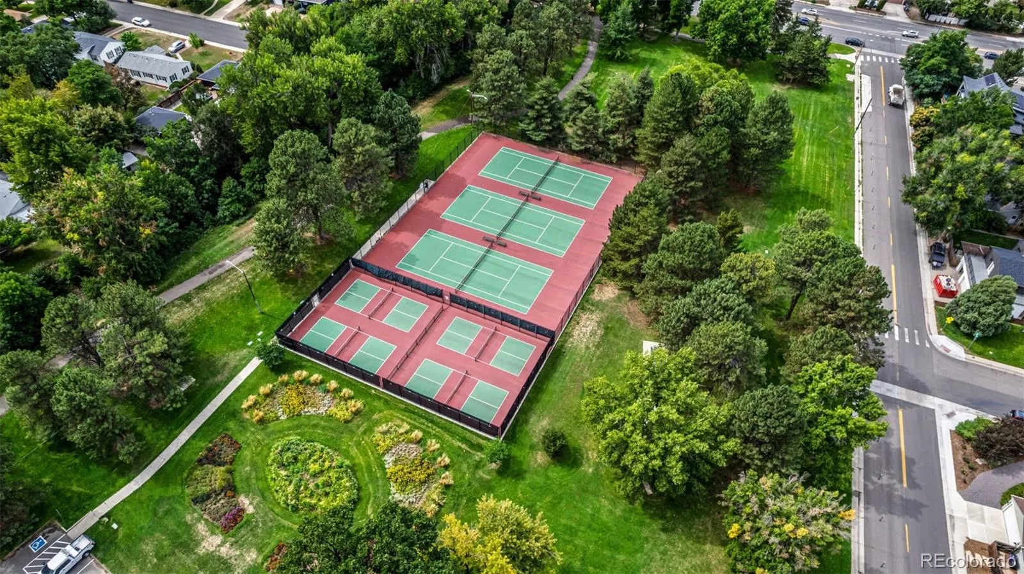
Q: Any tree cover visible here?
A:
Yes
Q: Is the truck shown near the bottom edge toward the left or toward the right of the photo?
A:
left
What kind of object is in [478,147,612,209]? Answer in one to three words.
tennis court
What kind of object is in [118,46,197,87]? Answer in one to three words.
house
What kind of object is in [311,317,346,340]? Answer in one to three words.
sports court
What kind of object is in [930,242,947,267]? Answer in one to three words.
vehicle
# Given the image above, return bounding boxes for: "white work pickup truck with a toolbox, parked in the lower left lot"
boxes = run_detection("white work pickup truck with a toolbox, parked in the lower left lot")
[43,536,99,574]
